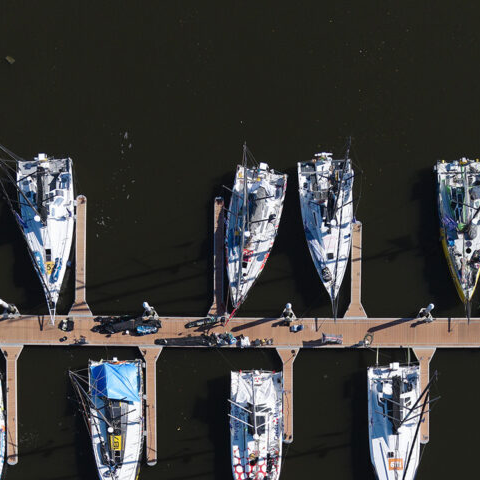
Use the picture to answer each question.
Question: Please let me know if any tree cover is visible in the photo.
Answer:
No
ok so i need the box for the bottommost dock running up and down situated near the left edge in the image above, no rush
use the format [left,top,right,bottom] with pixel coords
[0,346,23,465]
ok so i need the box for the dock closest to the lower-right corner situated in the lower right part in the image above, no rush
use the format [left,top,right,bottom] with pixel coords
[411,348,435,443]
